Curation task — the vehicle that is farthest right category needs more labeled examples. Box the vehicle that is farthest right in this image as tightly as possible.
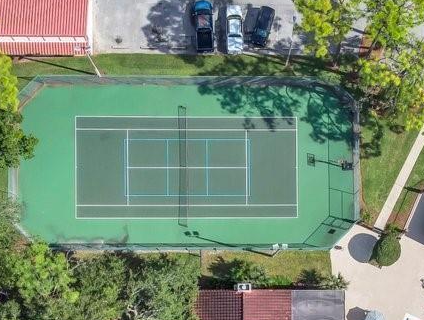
[250,1,276,46]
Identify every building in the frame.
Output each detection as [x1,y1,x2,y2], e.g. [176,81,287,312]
[191,282,346,320]
[0,0,100,68]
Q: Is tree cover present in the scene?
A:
Yes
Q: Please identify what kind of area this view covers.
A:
sports ground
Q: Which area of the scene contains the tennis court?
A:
center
